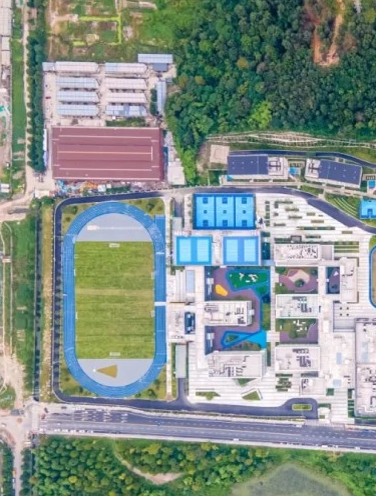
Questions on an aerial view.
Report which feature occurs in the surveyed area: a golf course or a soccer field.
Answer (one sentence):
The one in the frame is a soccer field.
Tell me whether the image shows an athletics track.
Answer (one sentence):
Yes, there's an athletics track down there.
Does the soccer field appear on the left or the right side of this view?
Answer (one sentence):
The soccer field is on the left side of the image.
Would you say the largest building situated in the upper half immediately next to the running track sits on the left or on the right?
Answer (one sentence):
It is on the left.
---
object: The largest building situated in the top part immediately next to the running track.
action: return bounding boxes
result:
[51,127,163,181]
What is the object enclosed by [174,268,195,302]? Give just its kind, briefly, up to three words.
building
